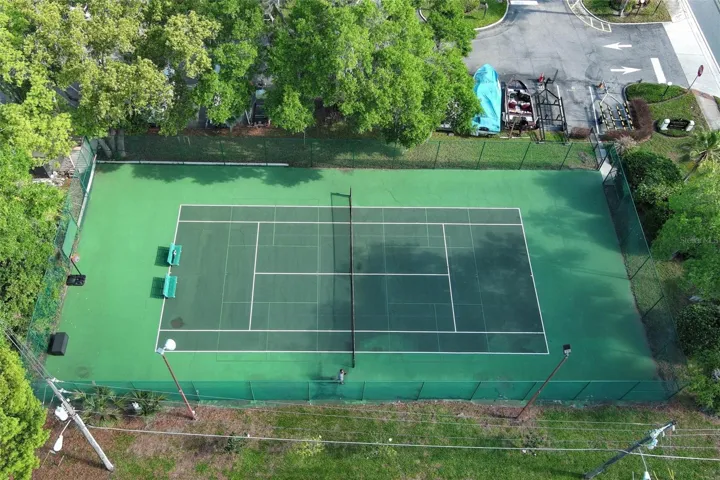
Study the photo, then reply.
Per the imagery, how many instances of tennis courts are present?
1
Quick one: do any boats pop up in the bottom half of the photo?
No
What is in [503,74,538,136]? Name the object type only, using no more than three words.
boat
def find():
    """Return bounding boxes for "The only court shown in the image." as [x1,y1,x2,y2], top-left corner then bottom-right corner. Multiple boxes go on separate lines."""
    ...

[49,163,662,384]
